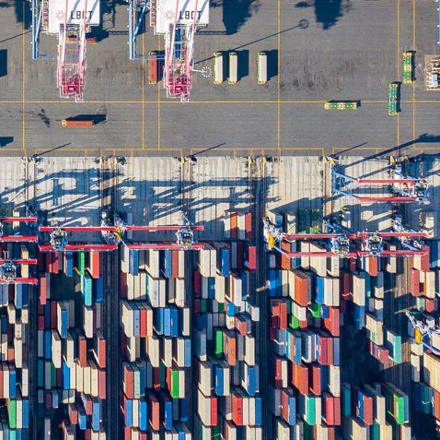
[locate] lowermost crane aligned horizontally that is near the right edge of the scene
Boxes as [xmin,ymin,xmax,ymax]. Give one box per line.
[329,214,424,258]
